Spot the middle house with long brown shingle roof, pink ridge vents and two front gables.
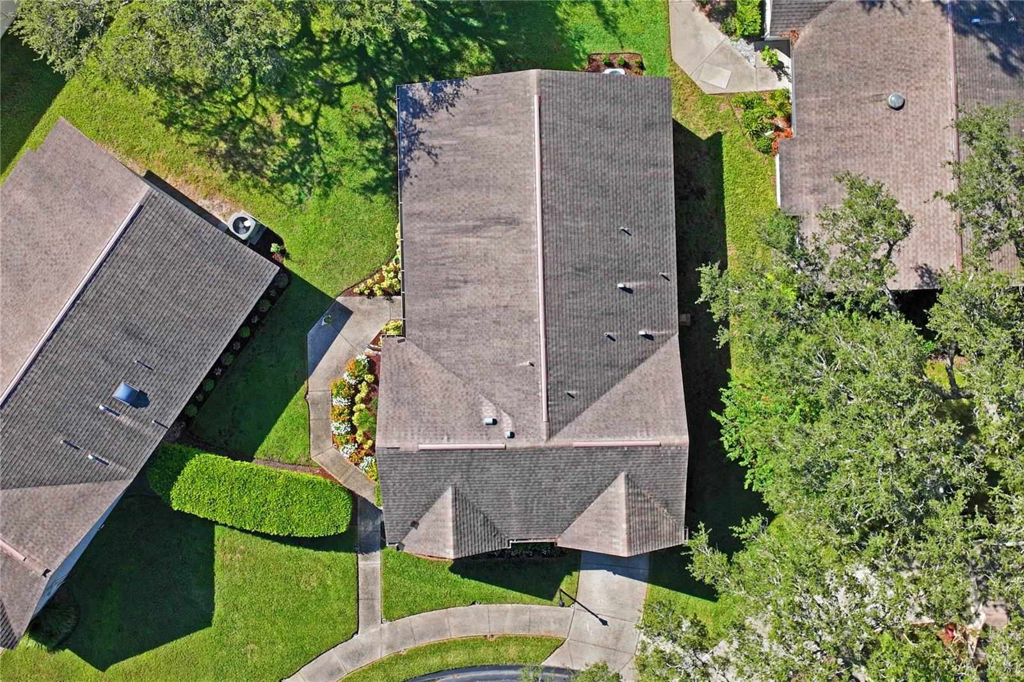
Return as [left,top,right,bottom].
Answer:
[378,68,691,559]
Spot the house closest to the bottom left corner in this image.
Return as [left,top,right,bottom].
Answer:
[0,116,280,654]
